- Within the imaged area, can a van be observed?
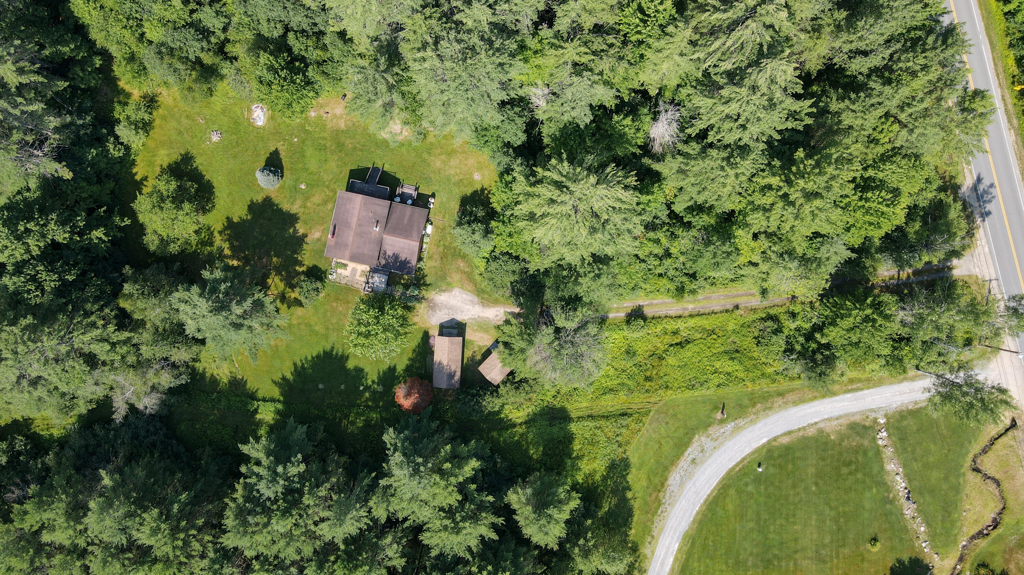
No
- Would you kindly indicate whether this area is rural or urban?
rural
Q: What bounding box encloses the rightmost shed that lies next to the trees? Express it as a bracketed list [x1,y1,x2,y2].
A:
[478,347,512,386]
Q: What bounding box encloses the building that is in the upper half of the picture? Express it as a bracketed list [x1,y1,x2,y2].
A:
[325,166,429,293]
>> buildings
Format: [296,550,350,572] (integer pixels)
[432,324,463,389]
[478,347,512,386]
[325,166,429,293]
